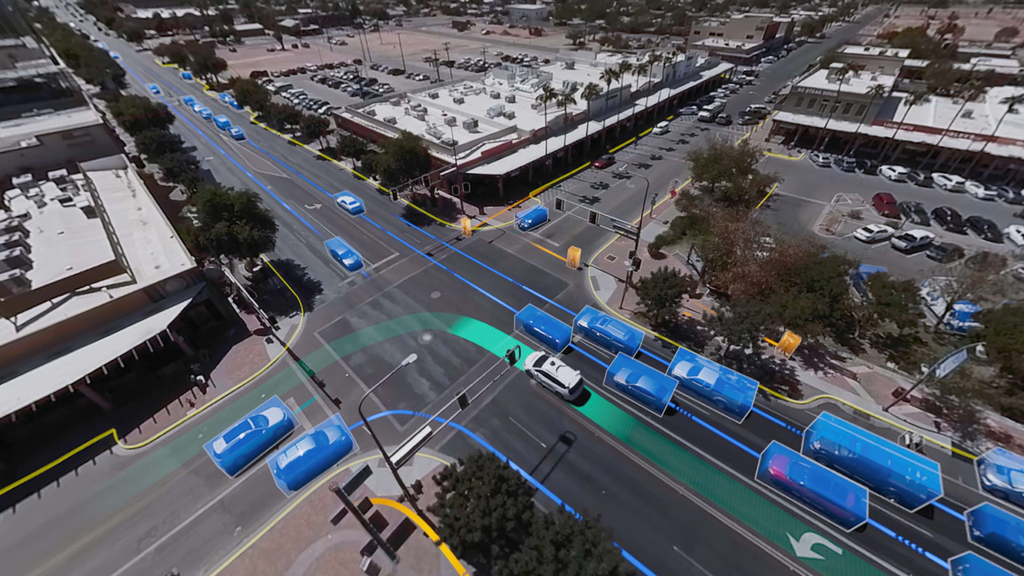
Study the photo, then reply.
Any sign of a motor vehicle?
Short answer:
Yes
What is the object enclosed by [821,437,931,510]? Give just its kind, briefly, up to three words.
vehicle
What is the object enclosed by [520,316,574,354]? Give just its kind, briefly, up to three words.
car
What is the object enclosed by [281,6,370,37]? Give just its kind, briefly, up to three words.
building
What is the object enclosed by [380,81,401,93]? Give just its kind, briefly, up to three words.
vehicle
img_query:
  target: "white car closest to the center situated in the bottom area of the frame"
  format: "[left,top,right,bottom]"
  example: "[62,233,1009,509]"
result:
[525,349,588,398]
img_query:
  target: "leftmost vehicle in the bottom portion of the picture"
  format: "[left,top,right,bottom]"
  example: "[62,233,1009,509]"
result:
[215,408,295,470]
